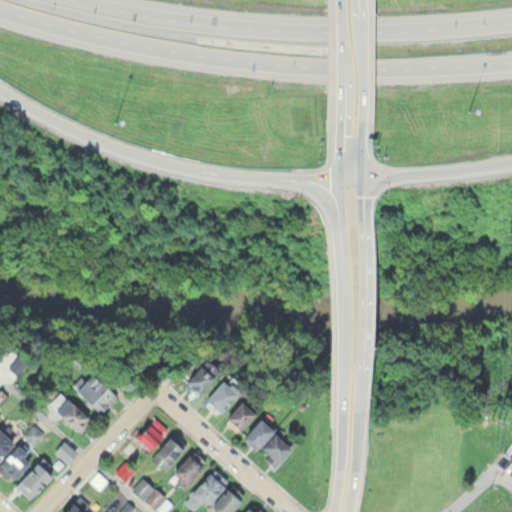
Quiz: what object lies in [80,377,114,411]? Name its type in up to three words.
house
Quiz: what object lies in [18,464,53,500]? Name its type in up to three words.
house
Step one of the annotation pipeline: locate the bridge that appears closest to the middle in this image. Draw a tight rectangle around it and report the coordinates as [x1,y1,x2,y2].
[328,244,377,392]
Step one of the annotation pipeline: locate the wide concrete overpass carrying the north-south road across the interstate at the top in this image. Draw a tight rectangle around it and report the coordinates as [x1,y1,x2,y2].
[327,0,376,100]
